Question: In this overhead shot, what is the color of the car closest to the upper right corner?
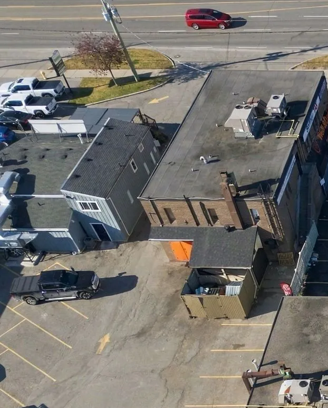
red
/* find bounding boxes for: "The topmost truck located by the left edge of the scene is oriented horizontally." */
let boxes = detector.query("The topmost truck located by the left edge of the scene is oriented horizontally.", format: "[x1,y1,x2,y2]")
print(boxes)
[2,72,62,96]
